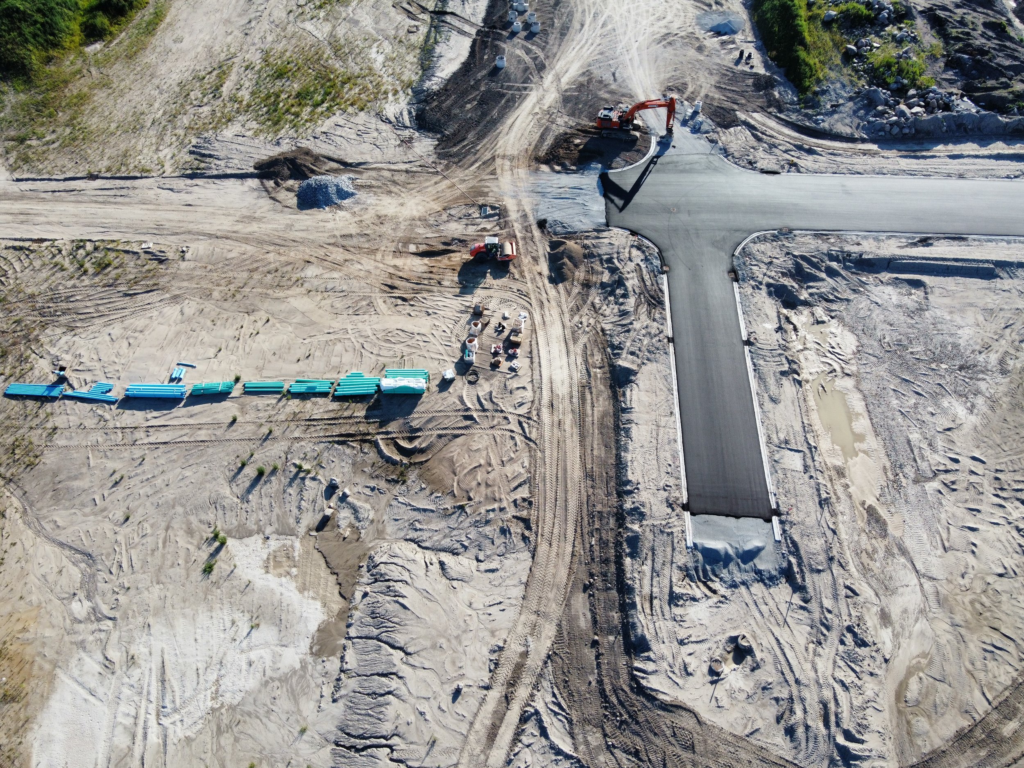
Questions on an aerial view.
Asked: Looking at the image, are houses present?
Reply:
No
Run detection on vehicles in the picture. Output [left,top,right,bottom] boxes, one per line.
[469,233,518,264]
[597,95,680,143]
